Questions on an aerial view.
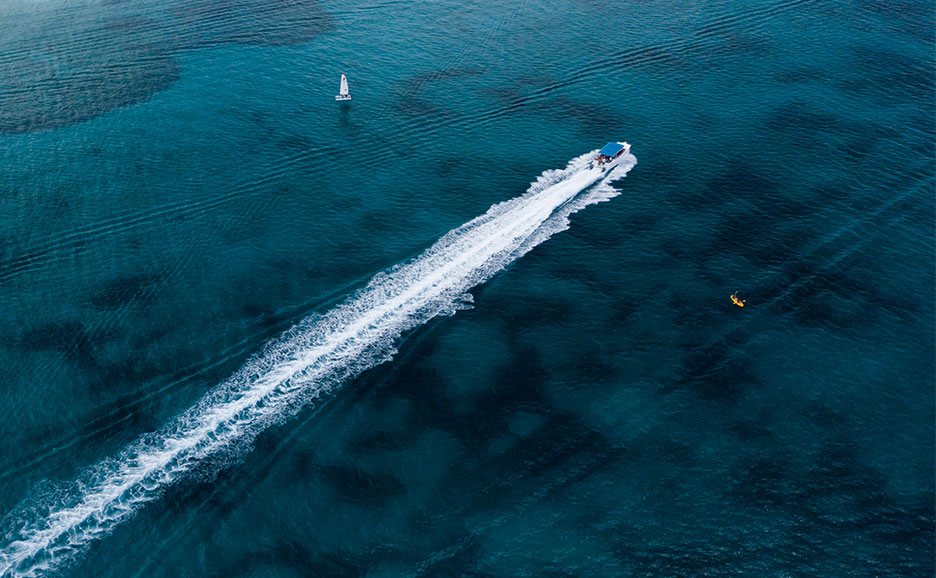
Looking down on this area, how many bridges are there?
0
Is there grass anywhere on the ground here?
No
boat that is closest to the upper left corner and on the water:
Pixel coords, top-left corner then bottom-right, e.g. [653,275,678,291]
[336,72,353,101]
